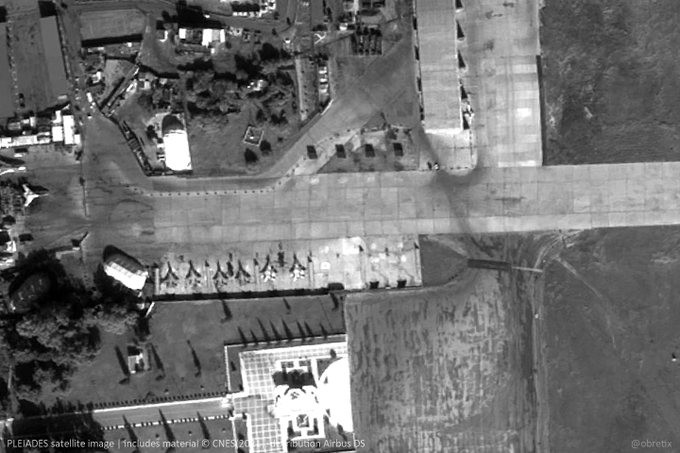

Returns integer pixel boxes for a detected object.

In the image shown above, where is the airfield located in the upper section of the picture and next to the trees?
[0,0,680,298]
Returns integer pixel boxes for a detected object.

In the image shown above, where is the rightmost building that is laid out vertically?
[414,0,473,134]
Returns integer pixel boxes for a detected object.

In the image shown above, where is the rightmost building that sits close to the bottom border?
[268,383,325,441]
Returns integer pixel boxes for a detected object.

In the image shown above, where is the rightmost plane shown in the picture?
[289,262,303,286]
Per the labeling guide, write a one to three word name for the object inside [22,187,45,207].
airplane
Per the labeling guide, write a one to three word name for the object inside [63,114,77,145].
building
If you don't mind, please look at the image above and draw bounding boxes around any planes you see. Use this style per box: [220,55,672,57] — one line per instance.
[289,262,303,286]
[234,268,249,292]
[187,268,201,292]
[164,269,179,293]
[261,264,276,287]
[211,268,226,293]
[22,187,45,207]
